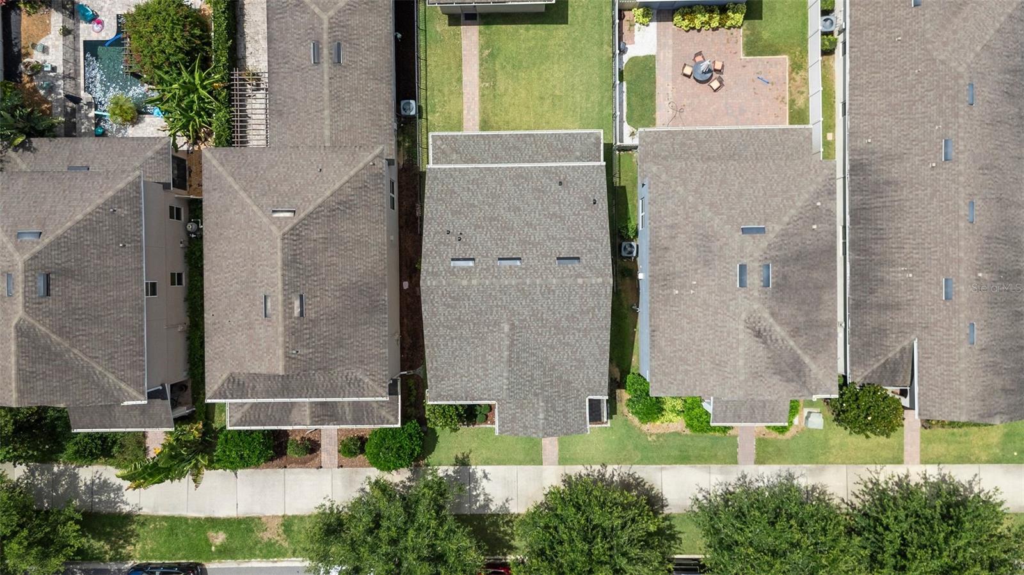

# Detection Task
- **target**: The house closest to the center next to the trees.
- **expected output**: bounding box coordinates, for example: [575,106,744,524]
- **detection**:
[421,130,612,438]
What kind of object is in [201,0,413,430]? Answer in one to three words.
house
